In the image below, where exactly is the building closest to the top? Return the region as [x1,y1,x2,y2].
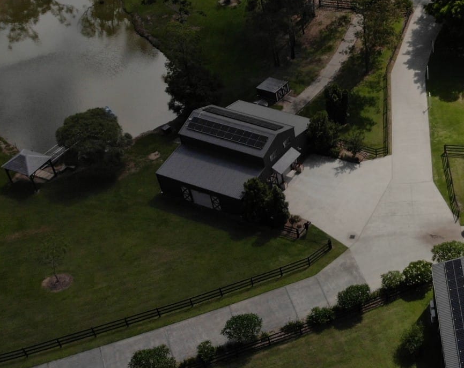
[256,76,289,106]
